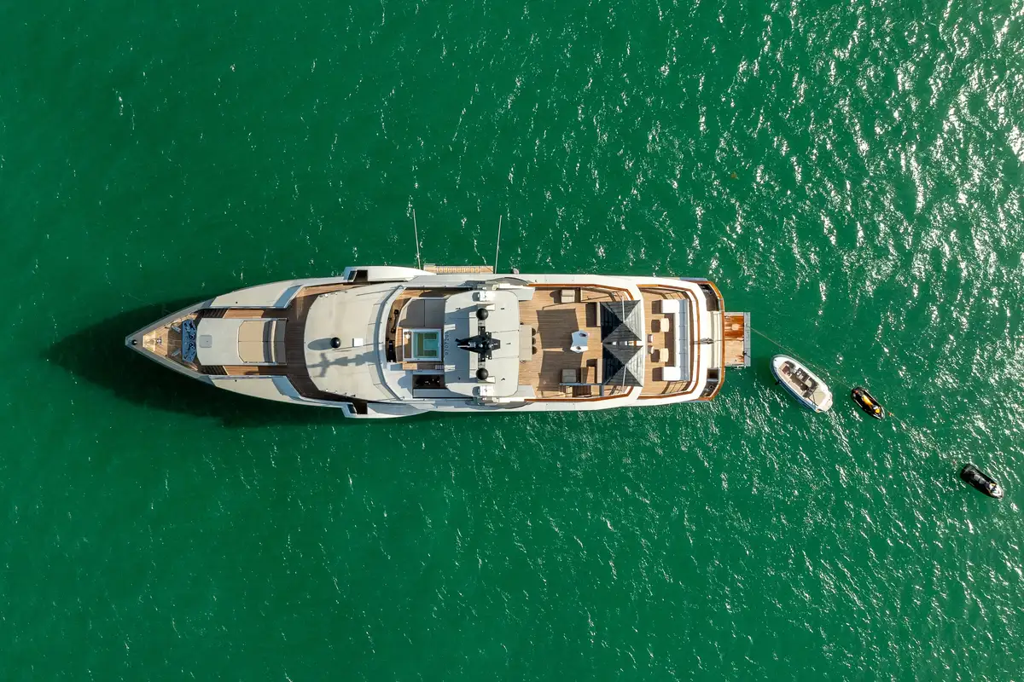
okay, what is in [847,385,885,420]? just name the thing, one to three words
boat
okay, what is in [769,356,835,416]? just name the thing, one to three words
boat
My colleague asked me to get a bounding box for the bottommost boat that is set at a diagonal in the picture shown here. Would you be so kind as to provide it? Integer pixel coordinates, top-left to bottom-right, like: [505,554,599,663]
[957,461,1002,498]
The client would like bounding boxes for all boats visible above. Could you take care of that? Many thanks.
[125,209,751,418]
[769,356,835,416]
[957,461,1002,498]
[847,385,885,420]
